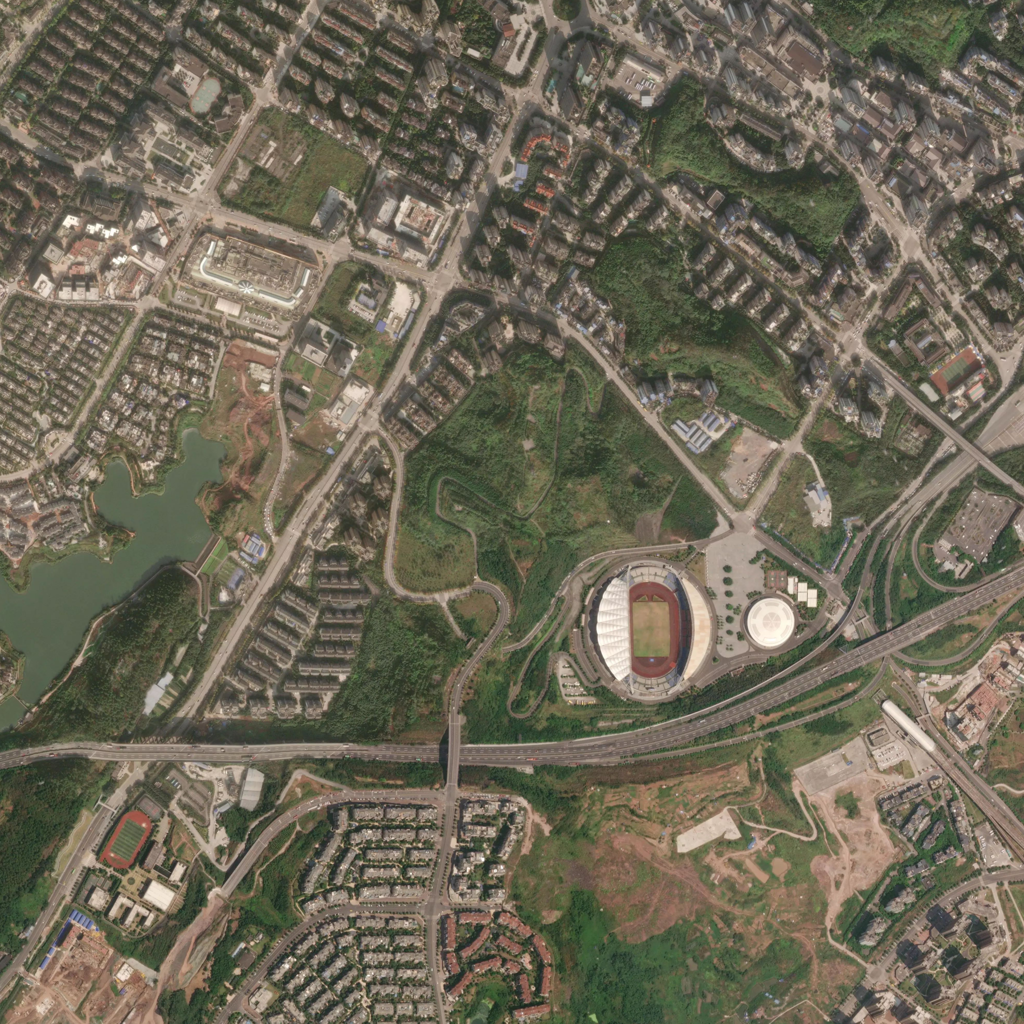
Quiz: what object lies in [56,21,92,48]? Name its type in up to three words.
house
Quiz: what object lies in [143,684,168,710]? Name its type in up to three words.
shed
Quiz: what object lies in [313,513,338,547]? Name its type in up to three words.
building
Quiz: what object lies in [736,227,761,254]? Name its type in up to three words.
building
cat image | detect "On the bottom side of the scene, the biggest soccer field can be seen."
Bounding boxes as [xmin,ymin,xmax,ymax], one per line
[633,602,670,657]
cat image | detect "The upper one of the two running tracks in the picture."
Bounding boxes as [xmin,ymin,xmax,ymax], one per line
[630,582,680,678]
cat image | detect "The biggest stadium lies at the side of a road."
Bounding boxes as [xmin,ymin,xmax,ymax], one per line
[583,556,717,704]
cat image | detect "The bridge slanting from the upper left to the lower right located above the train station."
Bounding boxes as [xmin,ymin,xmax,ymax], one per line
[856,348,1024,502]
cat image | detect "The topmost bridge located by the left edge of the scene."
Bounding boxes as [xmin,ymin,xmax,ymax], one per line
[0,741,393,770]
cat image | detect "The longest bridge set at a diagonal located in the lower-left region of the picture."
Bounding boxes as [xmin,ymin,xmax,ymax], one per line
[220,827,276,897]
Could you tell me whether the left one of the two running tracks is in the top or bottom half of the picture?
bottom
